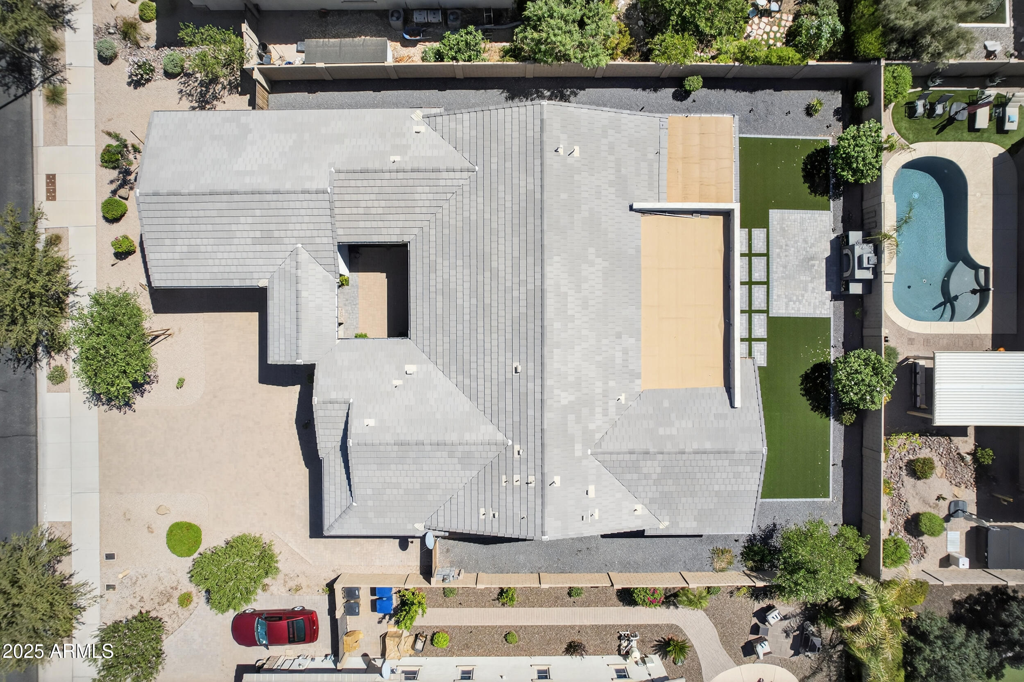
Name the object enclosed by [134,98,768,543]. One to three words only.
house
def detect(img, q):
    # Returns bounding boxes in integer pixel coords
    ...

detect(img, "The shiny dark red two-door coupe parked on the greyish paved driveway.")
[233,607,320,654]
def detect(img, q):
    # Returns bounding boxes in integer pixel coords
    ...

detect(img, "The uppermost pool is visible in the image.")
[893,156,990,321]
